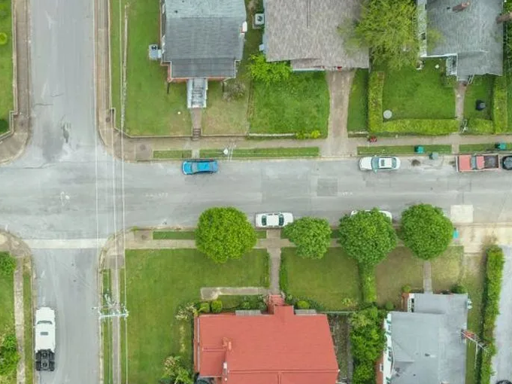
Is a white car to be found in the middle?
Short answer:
Yes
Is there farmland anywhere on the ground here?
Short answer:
No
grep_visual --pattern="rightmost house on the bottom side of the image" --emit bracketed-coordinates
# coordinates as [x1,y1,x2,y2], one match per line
[370,290,476,384]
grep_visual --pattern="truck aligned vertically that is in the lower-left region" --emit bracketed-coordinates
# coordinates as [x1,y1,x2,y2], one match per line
[33,304,58,371]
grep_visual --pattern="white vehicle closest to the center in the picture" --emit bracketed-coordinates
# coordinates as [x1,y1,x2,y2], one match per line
[255,211,294,229]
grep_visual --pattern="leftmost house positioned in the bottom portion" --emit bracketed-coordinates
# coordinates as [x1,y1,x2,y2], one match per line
[197,294,339,384]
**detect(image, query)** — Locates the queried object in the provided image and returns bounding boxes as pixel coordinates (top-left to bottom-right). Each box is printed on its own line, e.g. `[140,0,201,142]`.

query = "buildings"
[417,0,512,86]
[260,0,369,74]
[197,294,339,384]
[370,290,476,384]
[161,0,247,108]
